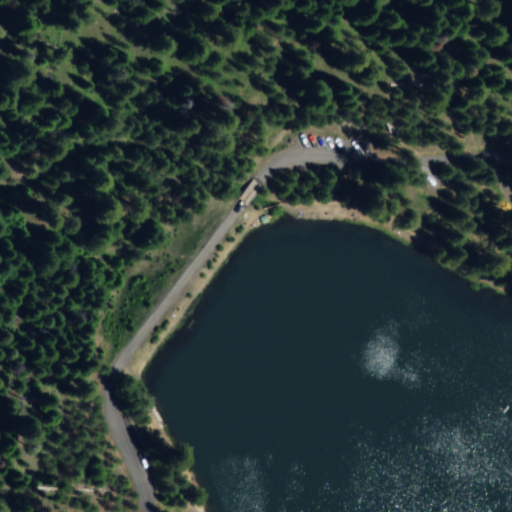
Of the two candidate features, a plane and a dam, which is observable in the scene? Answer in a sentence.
The one in the frame is a dam.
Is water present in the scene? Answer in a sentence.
Yes, the picture does contain water.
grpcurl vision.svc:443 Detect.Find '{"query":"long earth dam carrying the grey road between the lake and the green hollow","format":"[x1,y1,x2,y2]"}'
[104,200,256,385]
